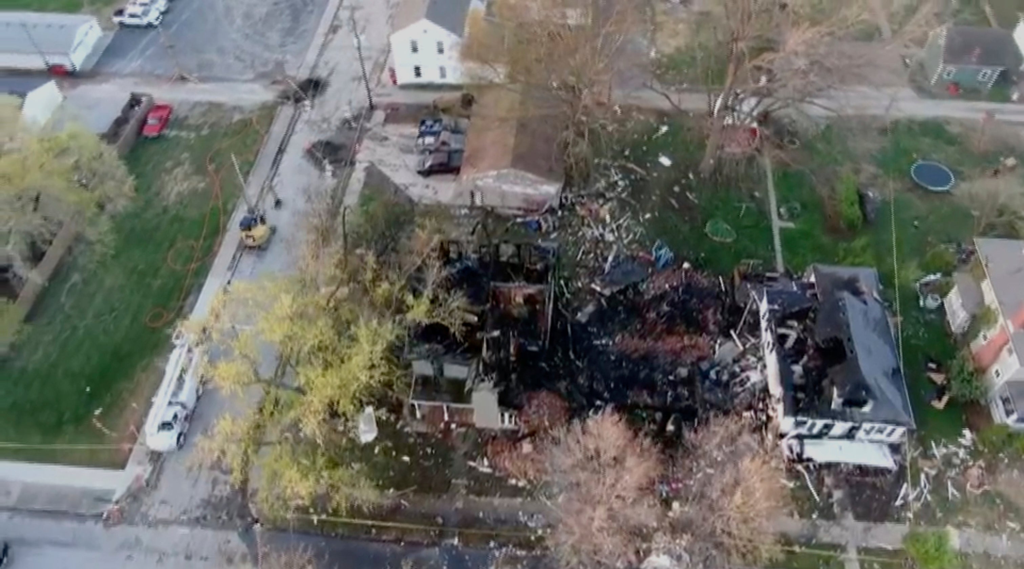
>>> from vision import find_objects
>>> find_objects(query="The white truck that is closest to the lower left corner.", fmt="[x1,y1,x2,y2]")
[140,315,208,447]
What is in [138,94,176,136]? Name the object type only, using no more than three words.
truck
